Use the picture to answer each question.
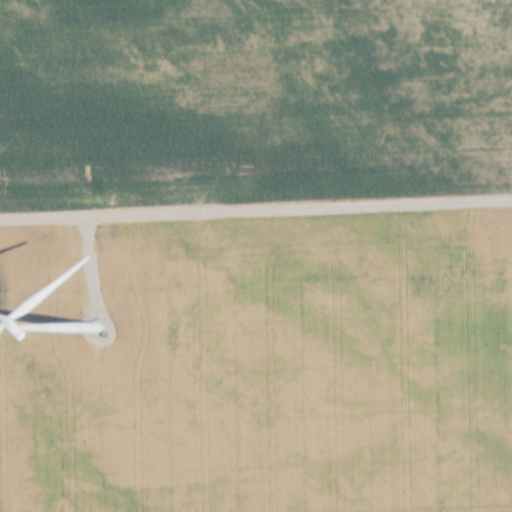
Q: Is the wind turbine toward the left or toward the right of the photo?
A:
left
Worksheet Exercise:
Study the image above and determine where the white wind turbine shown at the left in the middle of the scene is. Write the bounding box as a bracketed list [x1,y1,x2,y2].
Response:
[0,258,104,340]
